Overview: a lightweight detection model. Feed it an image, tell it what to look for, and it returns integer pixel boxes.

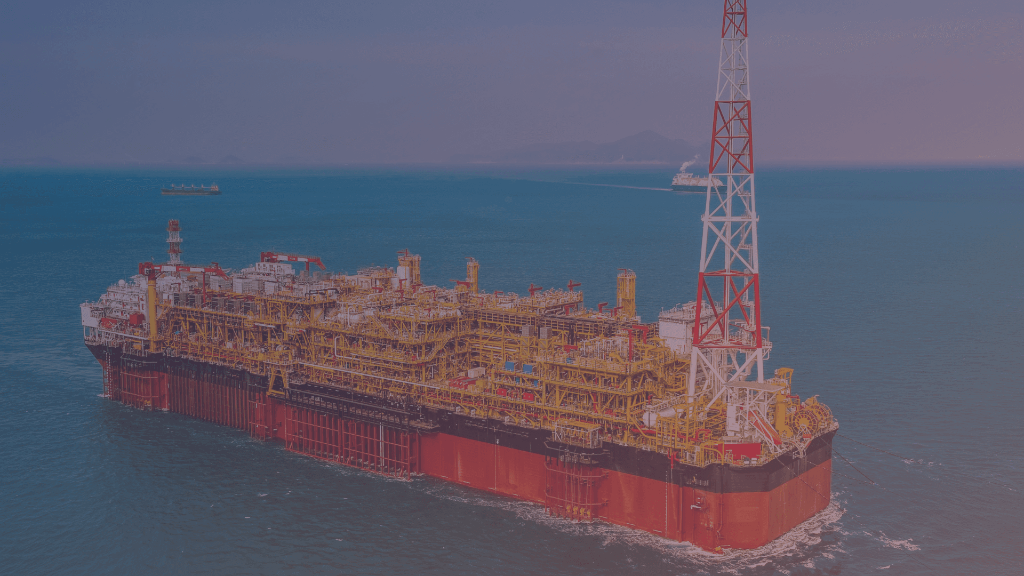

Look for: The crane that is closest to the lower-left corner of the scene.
[134,256,235,353]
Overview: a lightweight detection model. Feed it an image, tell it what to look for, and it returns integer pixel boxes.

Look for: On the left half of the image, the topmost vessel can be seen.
[162,182,223,194]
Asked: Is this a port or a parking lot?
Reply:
port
